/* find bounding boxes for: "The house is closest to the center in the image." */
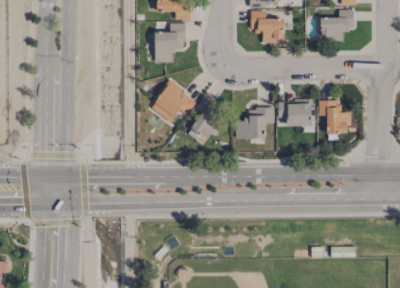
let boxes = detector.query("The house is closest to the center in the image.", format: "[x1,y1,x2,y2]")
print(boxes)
[186,112,222,140]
